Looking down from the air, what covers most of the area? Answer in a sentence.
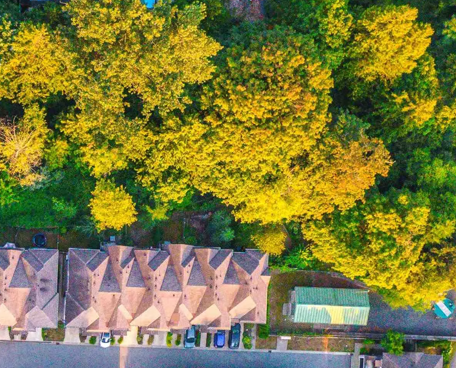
Most of the picture is covered by trees.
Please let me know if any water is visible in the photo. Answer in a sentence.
No, water can't be seen anywhere here.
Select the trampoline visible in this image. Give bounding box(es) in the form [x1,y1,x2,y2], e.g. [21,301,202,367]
[30,231,48,247]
